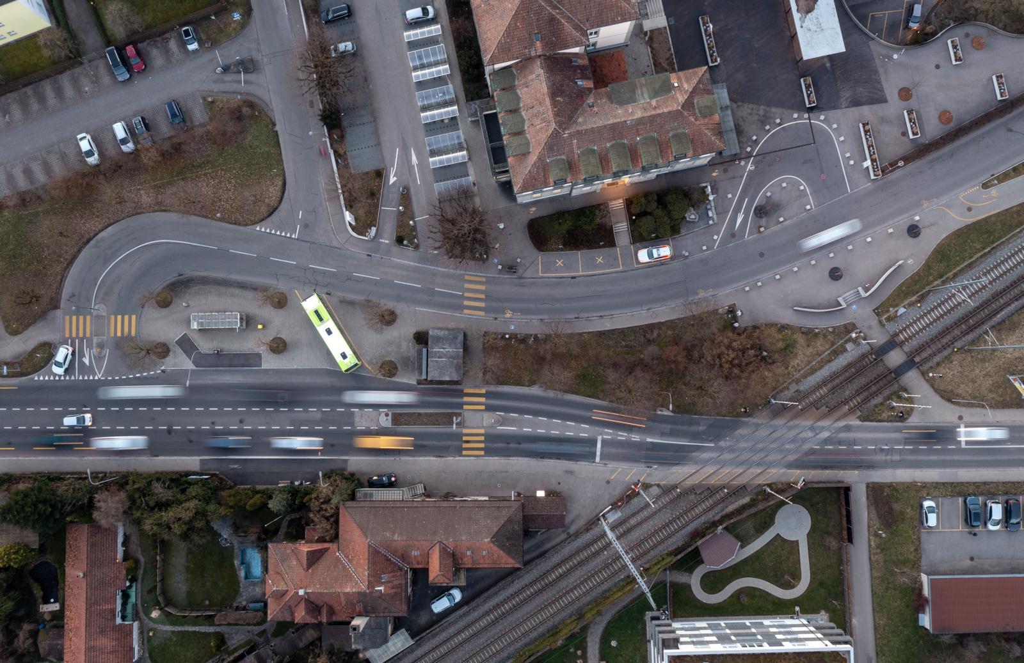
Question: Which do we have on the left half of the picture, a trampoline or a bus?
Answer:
bus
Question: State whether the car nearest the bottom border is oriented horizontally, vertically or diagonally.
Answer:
diagonally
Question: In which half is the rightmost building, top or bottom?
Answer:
bottom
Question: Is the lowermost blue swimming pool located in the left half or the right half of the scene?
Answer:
left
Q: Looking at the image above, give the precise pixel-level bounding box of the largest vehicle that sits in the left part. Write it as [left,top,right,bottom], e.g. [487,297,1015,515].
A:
[303,288,361,374]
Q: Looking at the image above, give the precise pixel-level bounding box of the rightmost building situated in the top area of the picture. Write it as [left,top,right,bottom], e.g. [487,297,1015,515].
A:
[781,0,845,72]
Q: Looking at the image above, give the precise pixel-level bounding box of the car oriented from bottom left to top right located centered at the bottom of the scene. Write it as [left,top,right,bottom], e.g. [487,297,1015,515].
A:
[430,586,462,614]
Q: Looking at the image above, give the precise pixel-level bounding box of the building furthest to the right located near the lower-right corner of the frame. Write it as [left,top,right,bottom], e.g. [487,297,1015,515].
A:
[915,570,1024,634]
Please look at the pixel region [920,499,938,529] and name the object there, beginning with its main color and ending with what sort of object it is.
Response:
white car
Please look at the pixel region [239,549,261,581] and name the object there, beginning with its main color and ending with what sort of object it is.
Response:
blue swimming pool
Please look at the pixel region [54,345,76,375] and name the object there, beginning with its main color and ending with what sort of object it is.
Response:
white car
